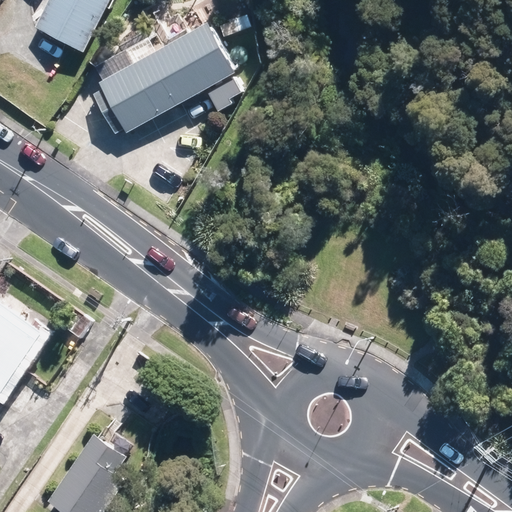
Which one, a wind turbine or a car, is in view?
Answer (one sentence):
The one in the frame is a car.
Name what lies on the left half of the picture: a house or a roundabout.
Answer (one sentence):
Looking on the left half of the picture, you will find a house.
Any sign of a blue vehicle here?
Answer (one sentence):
Yes, there's a blue vehicle here.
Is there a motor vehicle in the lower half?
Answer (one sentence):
Yes, I can see a motor vehicle in the lower half.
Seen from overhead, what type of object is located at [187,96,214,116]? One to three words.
vehicle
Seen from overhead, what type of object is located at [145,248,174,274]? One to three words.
car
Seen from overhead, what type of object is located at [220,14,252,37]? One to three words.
shed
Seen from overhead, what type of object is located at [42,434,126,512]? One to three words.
house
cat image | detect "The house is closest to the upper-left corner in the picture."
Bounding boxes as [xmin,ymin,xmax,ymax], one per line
[36,0,112,52]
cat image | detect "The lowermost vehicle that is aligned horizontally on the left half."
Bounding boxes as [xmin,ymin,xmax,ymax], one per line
[176,135,204,150]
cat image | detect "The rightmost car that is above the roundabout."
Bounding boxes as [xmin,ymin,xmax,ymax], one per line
[336,374,368,390]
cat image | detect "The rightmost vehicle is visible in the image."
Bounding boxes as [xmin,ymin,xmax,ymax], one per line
[438,442,466,466]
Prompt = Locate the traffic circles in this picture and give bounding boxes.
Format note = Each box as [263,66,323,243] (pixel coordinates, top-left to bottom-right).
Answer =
[308,392,352,437]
